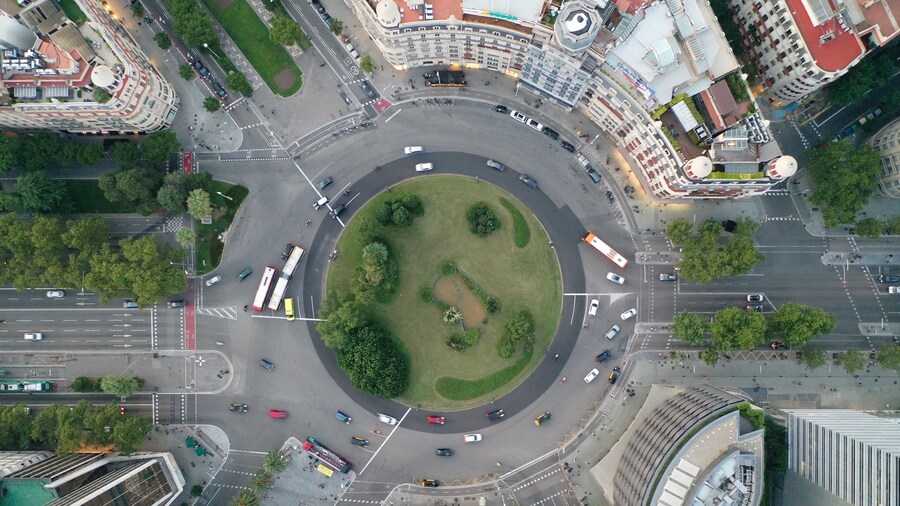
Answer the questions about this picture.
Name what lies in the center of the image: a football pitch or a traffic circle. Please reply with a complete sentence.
The one visible in the center of the image is a traffic circle.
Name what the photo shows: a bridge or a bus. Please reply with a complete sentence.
I can see a bus in this picture.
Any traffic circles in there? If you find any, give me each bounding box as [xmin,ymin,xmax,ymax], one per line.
[197,98,650,490]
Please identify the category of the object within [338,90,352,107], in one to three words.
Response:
vehicle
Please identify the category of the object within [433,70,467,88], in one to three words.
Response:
building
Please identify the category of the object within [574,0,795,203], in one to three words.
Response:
building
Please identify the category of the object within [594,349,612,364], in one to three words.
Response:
car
